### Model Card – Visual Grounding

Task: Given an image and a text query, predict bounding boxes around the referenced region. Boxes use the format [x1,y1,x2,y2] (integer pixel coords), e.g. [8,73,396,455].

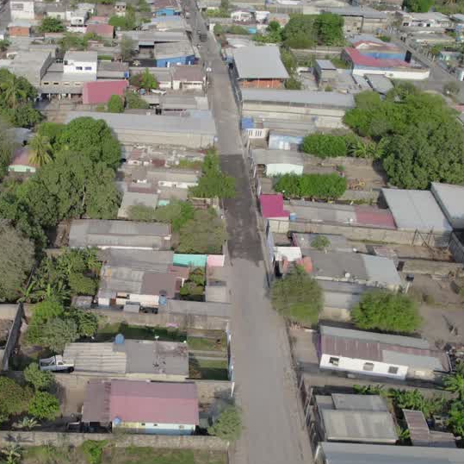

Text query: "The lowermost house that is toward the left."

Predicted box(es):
[81,379,199,438]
